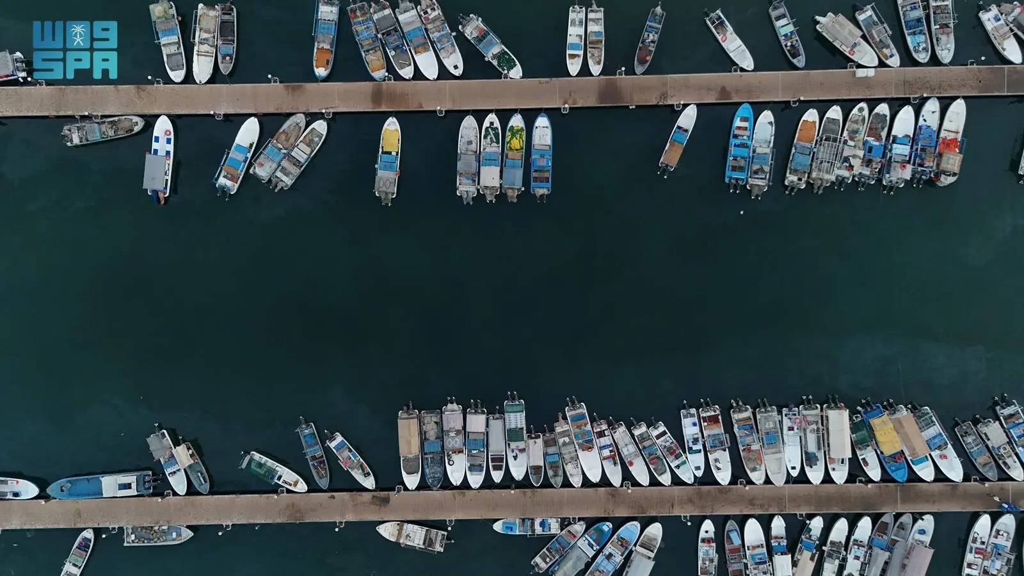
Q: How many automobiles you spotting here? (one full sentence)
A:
There are no automobiles in the image.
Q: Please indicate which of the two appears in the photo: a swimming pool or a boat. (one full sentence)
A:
Looking from above, you can make out a boat.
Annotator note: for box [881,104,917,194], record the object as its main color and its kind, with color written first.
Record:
white boat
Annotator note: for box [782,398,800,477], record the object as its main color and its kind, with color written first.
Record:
white boat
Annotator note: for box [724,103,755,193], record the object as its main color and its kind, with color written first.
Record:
blue boat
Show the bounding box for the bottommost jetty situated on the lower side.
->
[0,474,1024,537]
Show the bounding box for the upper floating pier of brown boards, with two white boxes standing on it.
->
[0,58,1024,123]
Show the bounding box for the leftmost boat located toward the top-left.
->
[0,51,36,80]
